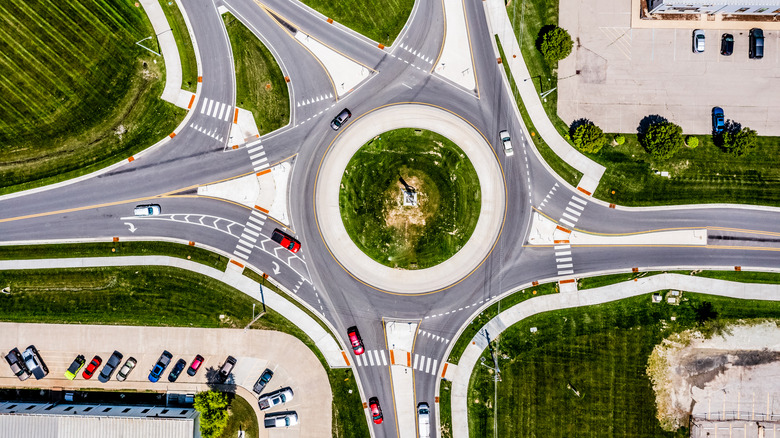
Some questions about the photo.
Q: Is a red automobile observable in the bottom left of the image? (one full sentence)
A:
Yes, you'll find a red automobile in the bottom left of the image.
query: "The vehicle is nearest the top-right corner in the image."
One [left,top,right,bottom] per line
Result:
[747,27,765,60]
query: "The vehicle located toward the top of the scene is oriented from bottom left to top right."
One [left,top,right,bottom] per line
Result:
[328,107,354,131]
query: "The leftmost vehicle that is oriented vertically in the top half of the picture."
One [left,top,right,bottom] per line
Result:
[498,129,513,158]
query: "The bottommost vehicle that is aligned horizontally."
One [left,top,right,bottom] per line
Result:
[264,411,298,426]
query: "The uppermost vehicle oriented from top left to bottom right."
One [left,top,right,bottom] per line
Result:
[270,229,302,253]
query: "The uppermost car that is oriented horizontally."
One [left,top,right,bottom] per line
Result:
[133,204,162,217]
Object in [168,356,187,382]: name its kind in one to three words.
car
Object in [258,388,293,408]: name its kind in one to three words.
vehicle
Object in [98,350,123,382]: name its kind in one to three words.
truck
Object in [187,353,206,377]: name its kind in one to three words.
car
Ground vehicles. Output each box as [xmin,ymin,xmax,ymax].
[747,27,765,60]
[98,350,123,382]
[498,129,513,158]
[349,326,364,354]
[133,204,162,217]
[328,107,354,131]
[24,347,49,379]
[187,353,206,377]
[168,356,187,382]
[149,350,173,382]
[719,32,734,57]
[710,106,726,134]
[83,355,104,380]
[63,354,85,379]
[6,349,31,380]
[251,366,274,395]
[258,388,293,408]
[690,29,706,55]
[369,396,382,423]
[264,411,298,426]
[217,354,238,382]
[270,229,302,253]
[117,356,138,382]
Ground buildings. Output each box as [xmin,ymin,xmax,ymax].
[0,401,203,438]
[651,0,780,15]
